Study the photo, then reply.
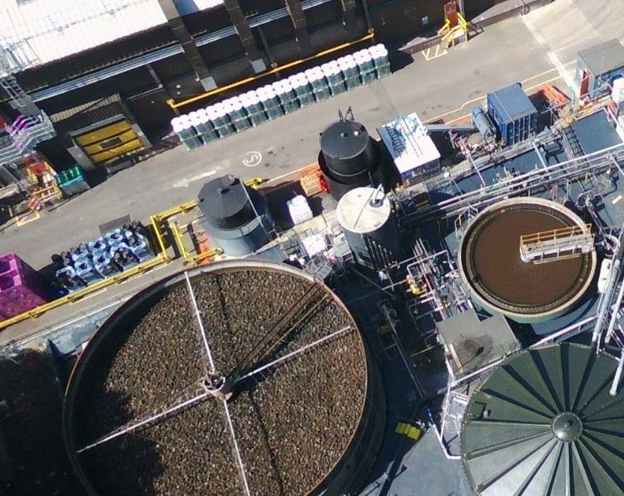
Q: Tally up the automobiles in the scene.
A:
0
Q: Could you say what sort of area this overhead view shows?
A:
industrial area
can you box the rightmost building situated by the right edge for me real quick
[574,38,624,103]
